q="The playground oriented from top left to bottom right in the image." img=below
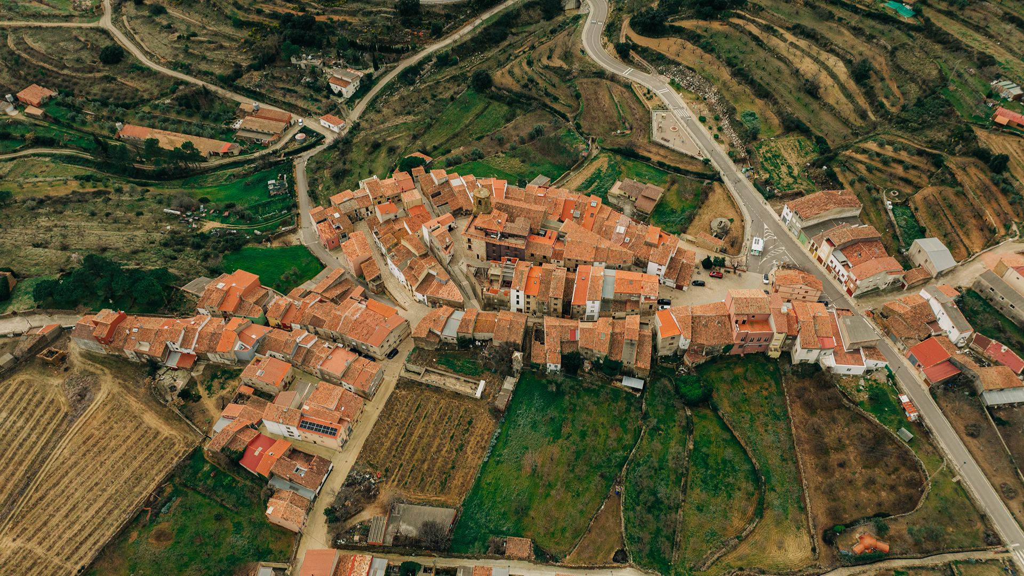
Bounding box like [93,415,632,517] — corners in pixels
[652,110,702,157]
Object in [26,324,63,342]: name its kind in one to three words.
shed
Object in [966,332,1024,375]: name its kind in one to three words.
house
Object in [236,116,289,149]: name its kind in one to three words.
barn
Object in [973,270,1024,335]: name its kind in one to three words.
building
